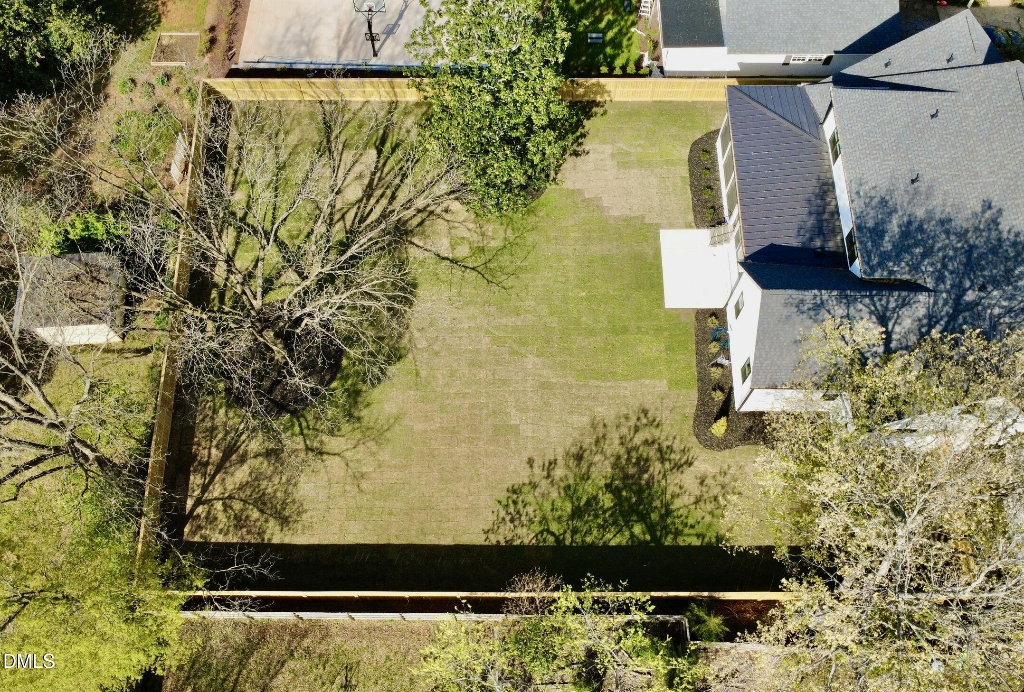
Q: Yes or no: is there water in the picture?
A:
No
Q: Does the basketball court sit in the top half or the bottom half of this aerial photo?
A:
top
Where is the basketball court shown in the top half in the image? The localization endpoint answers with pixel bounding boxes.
[232,0,592,68]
